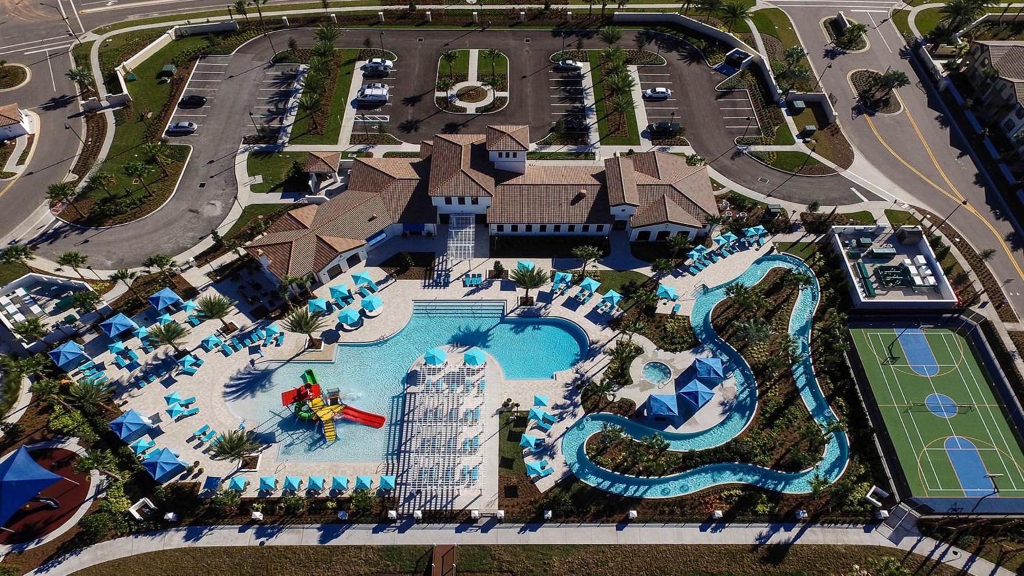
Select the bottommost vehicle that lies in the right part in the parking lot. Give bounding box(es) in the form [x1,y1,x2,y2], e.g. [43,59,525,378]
[648,120,680,134]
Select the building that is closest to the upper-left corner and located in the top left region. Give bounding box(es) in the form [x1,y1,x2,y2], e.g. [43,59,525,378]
[0,103,28,136]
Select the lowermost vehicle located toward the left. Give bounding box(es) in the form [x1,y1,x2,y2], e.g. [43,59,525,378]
[167,121,199,133]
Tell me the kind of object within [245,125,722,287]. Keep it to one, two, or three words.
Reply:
building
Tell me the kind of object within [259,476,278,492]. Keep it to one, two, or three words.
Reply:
umbrella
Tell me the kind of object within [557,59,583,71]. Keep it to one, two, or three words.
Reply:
vehicle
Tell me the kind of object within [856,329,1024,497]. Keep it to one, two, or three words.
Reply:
sports court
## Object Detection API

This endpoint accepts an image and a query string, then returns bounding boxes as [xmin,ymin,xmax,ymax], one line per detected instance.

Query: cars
[366,57,393,69]
[167,121,199,133]
[178,96,209,108]
[358,86,388,101]
[648,120,680,134]
[644,87,672,99]
[363,67,390,79]
[557,59,583,71]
